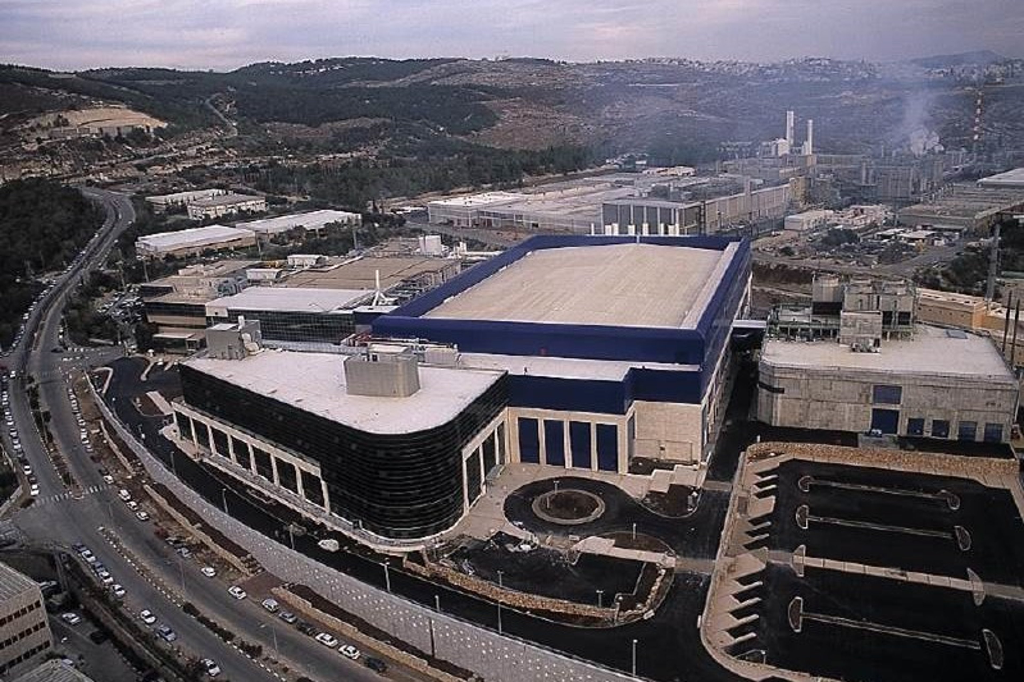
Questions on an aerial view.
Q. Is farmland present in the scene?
No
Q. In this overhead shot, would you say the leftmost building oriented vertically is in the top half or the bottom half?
bottom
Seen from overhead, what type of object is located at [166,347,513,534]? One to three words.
building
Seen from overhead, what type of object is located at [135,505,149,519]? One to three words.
car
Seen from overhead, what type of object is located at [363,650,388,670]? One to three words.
car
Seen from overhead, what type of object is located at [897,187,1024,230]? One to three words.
building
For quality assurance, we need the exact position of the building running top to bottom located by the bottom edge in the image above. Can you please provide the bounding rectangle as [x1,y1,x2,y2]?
[0,562,55,679]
